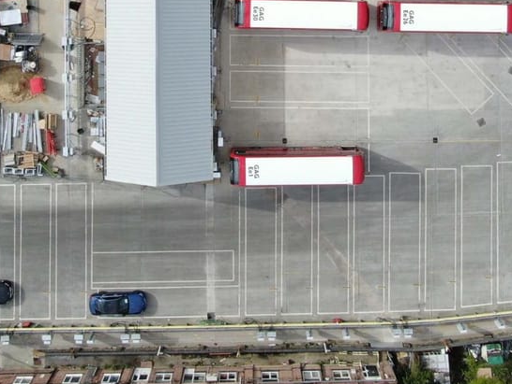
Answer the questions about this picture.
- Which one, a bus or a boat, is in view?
bus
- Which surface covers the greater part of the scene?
paved ground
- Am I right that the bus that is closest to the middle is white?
Yes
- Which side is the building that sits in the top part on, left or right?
left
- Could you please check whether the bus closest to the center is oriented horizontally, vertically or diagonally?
horizontally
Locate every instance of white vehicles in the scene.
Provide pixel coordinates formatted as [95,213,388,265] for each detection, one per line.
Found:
[231,144,364,184]
[234,0,368,32]
[375,0,512,36]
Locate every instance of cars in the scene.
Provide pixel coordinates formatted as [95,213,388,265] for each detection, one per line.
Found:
[0,280,13,305]
[90,289,146,318]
